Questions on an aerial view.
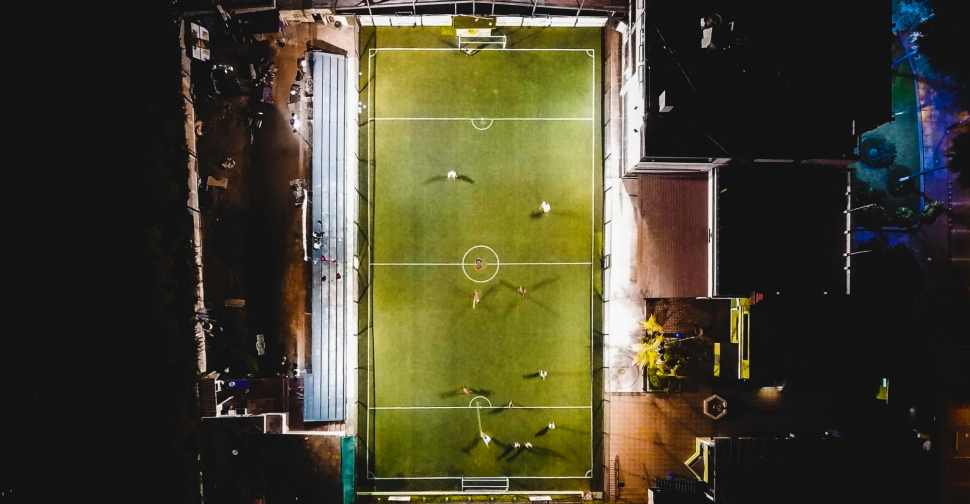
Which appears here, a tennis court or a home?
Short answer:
home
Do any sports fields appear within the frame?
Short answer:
Yes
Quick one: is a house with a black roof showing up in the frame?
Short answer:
Yes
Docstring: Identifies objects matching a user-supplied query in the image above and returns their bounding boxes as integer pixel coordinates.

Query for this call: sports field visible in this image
[359,27,603,492]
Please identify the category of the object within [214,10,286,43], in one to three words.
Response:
shed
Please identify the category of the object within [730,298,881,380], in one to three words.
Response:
house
